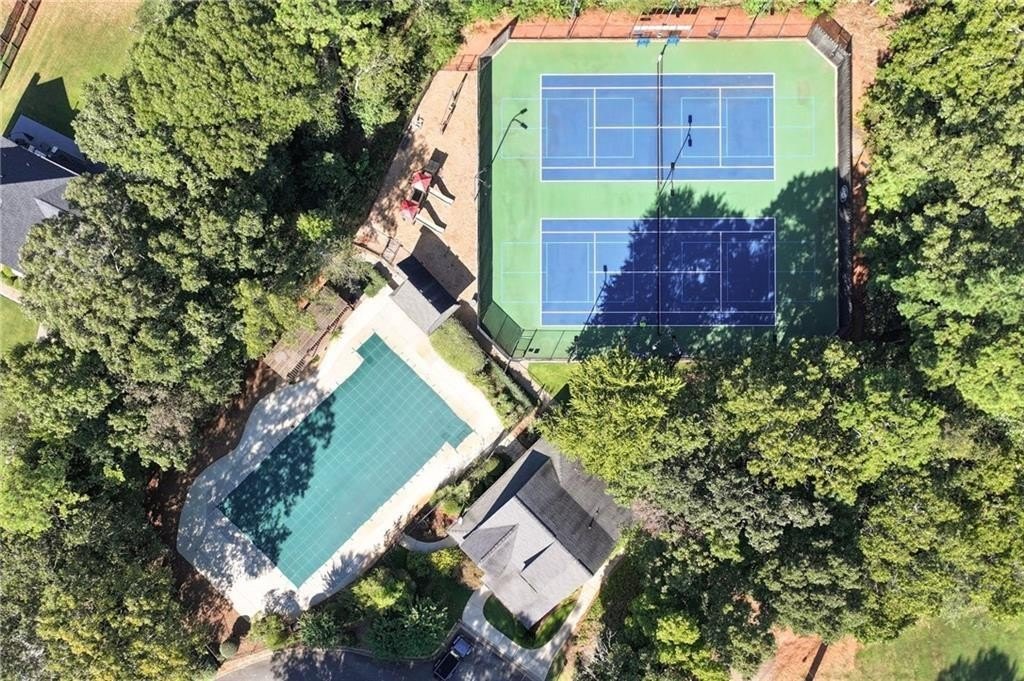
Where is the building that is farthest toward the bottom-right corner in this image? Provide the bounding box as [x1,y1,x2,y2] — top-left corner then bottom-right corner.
[446,437,635,626]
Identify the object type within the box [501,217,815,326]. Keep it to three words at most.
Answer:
tennis court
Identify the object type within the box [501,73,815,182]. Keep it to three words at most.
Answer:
tennis court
